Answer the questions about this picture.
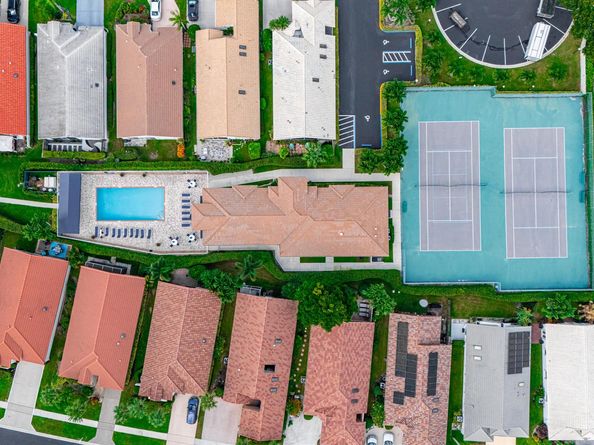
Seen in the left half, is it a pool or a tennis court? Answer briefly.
pool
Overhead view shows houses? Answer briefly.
Yes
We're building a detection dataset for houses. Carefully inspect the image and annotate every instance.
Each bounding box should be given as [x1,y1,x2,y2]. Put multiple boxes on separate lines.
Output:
[116,20,184,138]
[541,323,594,442]
[223,293,297,439]
[37,20,110,139]
[0,248,72,369]
[273,1,336,139]
[384,314,452,445]
[140,281,221,402]
[461,323,531,442]
[59,266,147,390]
[303,322,375,445]
[0,22,31,136]
[195,0,260,138]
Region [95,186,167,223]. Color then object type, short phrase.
blue swimming pool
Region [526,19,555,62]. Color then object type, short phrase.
white trailer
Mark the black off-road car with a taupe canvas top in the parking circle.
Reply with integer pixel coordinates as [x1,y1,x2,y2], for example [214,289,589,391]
[449,8,472,34]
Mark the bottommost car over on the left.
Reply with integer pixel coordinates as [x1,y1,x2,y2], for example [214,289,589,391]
[186,396,200,424]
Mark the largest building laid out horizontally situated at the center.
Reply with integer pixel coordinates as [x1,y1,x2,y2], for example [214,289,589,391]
[191,176,390,258]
